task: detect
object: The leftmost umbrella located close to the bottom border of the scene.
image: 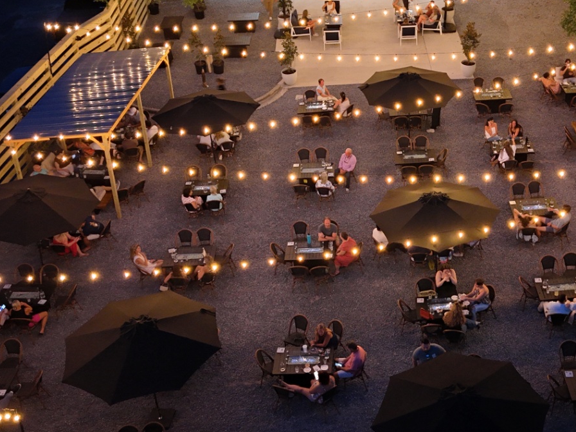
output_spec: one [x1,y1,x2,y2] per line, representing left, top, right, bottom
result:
[68,292,224,415]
